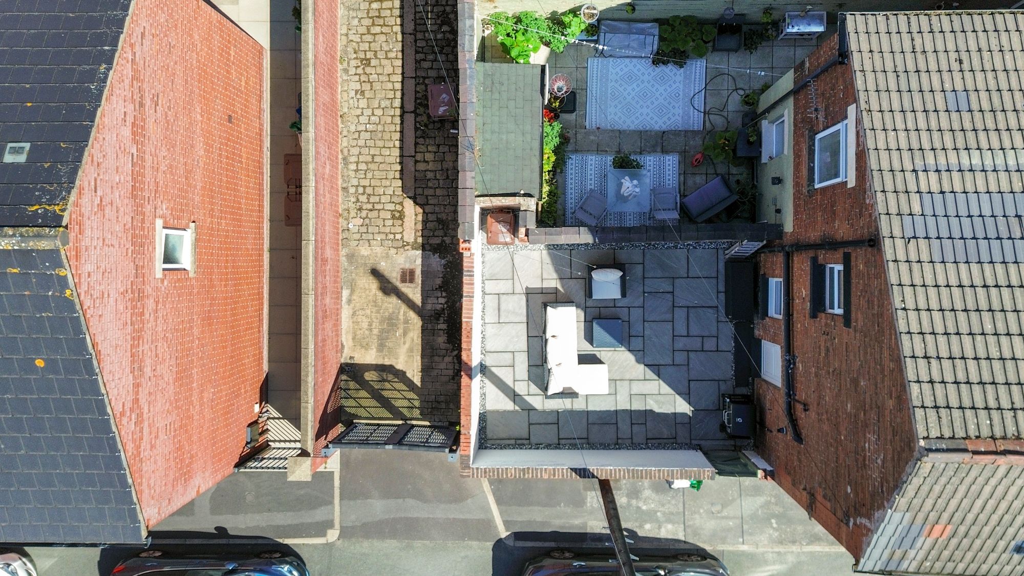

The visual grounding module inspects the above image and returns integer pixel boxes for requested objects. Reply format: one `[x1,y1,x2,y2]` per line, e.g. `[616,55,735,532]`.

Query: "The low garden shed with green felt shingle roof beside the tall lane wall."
[477,64,542,200]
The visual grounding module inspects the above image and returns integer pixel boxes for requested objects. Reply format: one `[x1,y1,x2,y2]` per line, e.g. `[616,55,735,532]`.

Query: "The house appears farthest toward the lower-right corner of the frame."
[737,0,1024,576]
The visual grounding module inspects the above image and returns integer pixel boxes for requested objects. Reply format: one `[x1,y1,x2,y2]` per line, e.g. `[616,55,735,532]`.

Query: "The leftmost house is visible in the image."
[0,0,269,549]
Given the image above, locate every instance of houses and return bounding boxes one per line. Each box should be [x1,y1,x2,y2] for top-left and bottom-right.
[737,0,1024,576]
[0,0,269,549]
